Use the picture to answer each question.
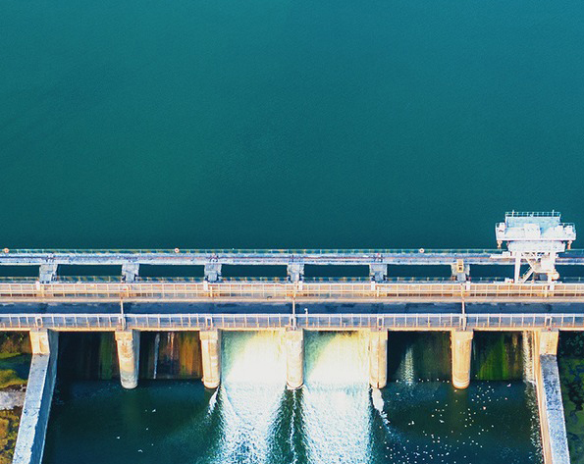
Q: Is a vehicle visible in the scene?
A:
No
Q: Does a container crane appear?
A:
Yes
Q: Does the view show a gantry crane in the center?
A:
No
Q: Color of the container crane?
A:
white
